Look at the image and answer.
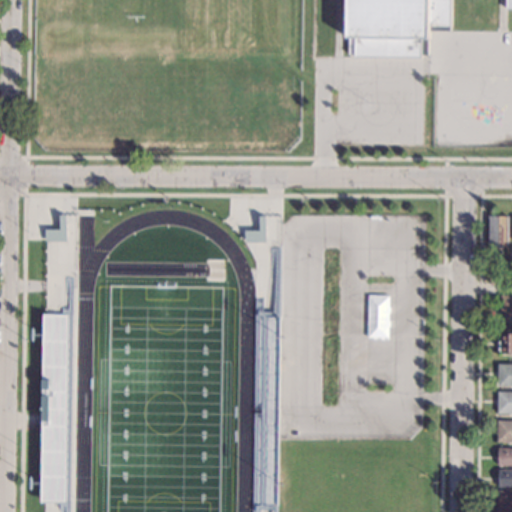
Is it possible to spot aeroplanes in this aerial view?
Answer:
No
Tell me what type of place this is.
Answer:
sports ground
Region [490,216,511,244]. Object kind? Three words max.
house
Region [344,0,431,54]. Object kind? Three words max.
building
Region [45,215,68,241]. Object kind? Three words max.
building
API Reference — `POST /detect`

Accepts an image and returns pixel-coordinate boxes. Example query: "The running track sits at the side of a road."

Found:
[77,210,256,512]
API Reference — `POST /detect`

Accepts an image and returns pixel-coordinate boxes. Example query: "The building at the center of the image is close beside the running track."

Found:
[244,216,268,242]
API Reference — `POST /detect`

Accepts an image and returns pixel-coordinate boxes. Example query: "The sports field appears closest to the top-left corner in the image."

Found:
[37,0,302,150]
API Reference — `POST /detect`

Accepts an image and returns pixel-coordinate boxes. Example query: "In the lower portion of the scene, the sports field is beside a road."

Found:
[92,225,242,512]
